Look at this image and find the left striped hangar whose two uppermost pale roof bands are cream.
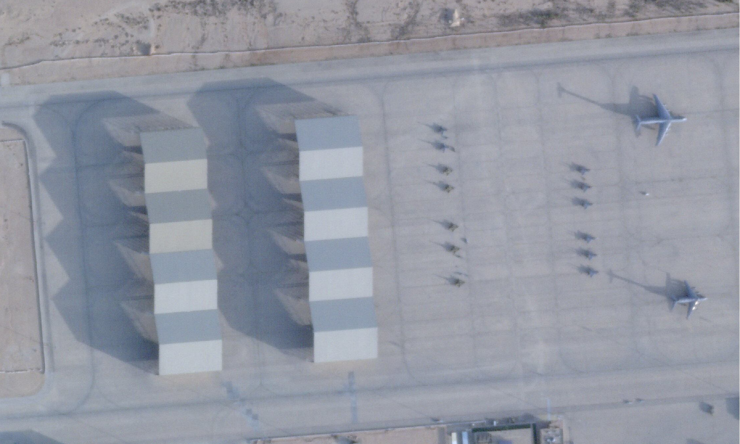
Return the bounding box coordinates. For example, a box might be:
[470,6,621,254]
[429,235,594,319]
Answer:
[134,127,220,375]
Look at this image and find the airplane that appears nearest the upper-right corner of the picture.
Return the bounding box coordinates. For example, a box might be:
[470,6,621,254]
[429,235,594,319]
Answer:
[635,96,687,147]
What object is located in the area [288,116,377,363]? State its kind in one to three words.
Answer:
hangar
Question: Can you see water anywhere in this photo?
No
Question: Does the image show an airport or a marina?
airport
